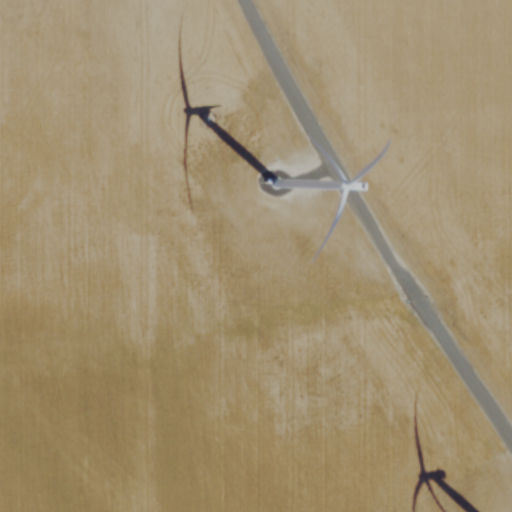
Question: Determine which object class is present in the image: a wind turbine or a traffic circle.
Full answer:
The image shows a wind turbine.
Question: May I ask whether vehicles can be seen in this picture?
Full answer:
No, the scene contains no vehicle.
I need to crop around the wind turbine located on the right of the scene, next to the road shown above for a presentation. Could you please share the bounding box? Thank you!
[270,129,396,265]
